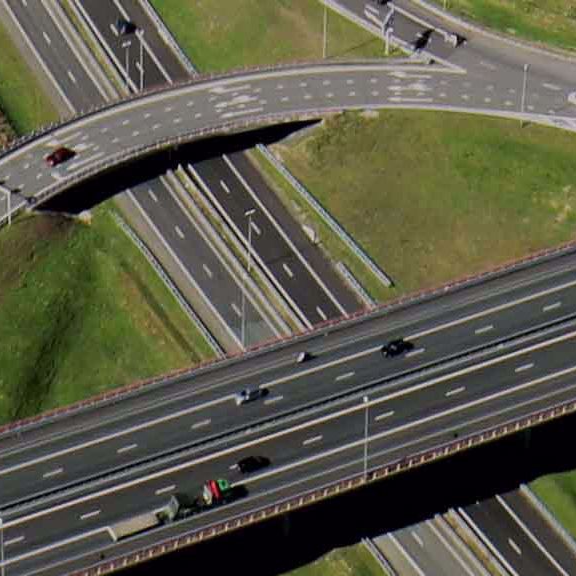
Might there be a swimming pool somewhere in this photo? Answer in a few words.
No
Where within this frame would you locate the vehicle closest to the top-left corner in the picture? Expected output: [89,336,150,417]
[113,20,131,36]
